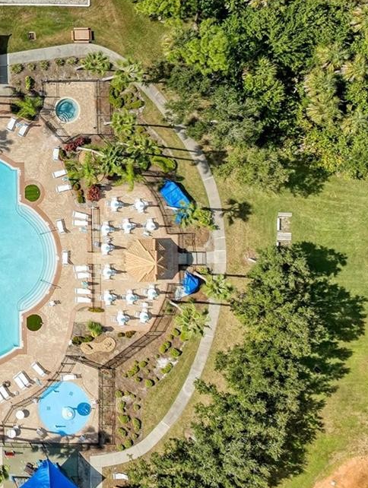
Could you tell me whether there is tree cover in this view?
Yes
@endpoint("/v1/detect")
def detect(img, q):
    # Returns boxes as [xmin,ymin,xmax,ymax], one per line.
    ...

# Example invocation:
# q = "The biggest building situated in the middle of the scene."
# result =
[121,237,171,284]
